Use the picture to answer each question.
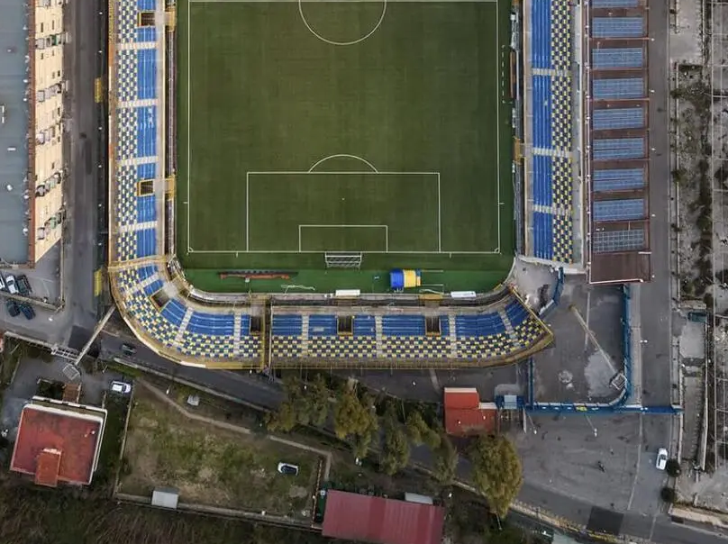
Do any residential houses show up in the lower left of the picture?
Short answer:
Yes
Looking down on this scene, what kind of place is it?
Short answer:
sports ground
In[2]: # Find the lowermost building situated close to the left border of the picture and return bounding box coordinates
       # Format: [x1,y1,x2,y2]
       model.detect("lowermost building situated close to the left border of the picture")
[11,396,109,487]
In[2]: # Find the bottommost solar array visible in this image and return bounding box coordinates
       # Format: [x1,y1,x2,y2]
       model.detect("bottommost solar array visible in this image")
[594,229,645,252]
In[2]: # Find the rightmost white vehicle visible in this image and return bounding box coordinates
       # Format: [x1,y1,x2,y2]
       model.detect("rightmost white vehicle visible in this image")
[657,451,669,472]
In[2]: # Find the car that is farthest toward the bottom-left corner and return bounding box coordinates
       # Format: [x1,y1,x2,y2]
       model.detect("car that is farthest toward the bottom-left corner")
[109,382,130,395]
